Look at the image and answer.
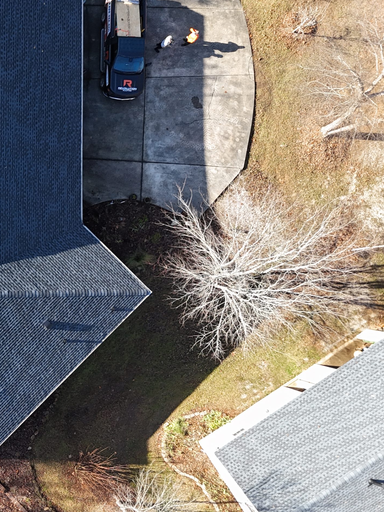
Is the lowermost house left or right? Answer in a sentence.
You can find the lowermost house on the right side of the picture.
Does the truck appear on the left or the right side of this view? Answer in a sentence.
You can find the truck on the left side of the picture.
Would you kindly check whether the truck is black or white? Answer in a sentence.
The truck is black.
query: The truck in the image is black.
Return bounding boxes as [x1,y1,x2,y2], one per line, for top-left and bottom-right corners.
[100,0,152,103]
